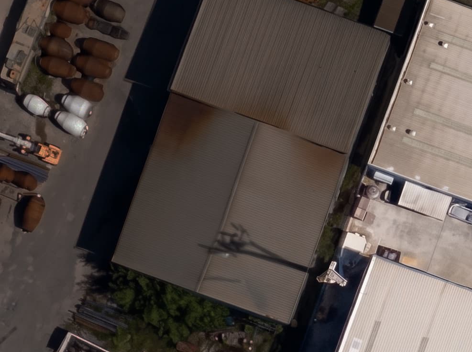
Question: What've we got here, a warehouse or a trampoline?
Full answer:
Of the two, only a warehouse appears.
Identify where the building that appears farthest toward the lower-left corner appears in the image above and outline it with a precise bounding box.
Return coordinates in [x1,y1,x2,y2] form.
[111,92,352,324]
